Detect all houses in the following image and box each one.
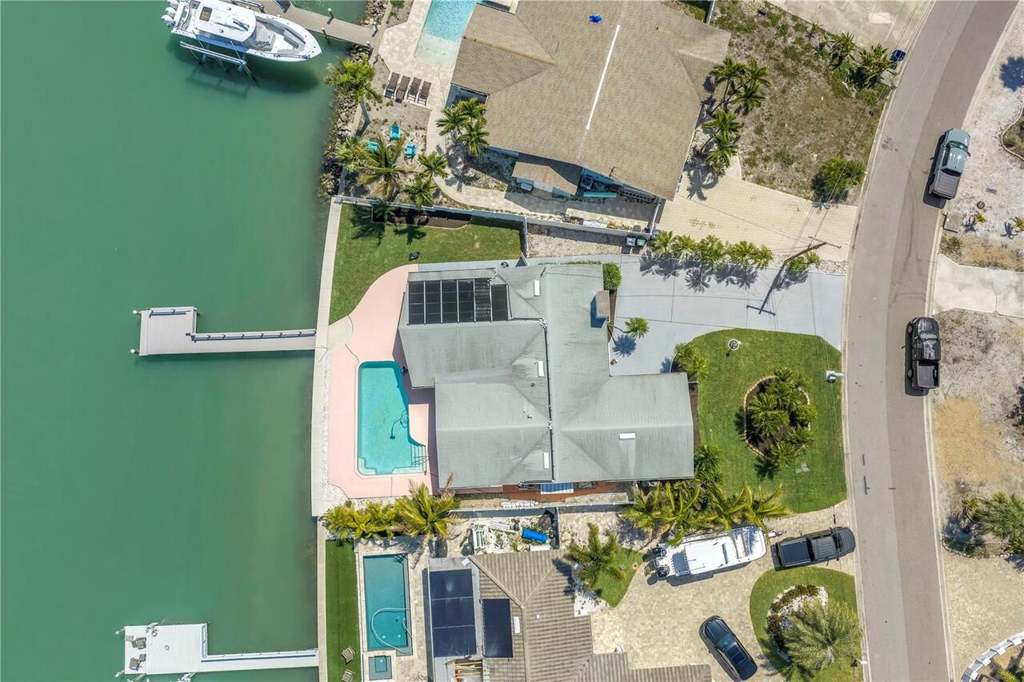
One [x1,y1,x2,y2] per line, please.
[399,265,693,495]
[448,0,730,201]
[427,549,714,682]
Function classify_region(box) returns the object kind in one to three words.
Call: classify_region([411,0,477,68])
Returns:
swimming pool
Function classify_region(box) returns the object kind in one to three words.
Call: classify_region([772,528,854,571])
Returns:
truck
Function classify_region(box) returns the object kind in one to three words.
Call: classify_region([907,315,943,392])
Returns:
truck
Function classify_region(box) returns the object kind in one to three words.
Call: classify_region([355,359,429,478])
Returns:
swimming pool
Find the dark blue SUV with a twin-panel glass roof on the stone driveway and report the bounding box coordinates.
[703,613,757,682]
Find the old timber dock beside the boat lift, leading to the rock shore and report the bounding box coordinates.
[227,0,381,51]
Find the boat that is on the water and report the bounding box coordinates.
[163,0,325,60]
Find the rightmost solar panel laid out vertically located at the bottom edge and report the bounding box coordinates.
[484,599,513,659]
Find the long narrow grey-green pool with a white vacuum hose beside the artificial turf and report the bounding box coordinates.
[363,552,414,656]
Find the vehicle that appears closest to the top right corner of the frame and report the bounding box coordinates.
[926,126,969,203]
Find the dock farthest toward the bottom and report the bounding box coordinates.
[112,618,319,678]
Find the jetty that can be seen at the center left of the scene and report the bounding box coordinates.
[129,307,317,357]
